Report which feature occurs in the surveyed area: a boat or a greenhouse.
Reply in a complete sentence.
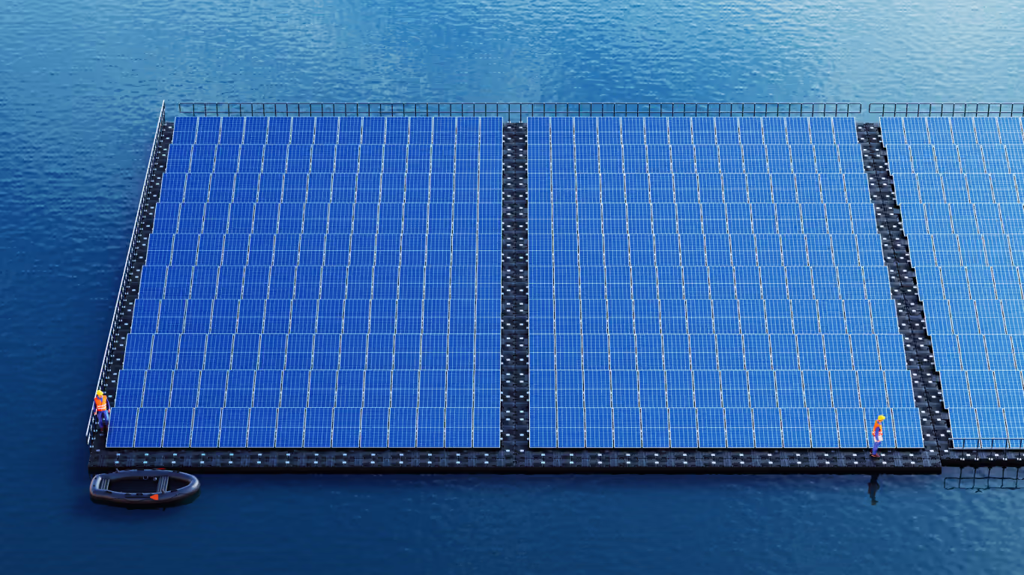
Of the two, only a boat appears.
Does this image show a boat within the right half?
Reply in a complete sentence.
No, I can find no boat within the right half.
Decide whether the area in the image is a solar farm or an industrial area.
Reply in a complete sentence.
What you see here is a solar farm.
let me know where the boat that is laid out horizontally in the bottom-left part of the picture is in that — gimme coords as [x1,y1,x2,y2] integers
[91,468,202,504]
